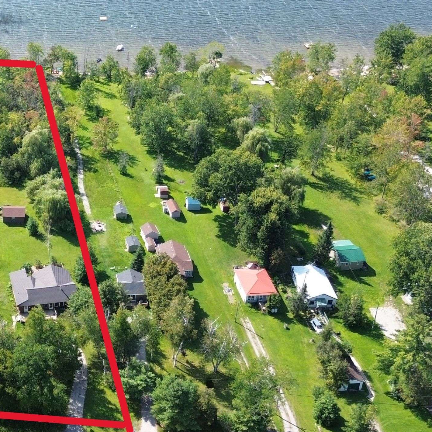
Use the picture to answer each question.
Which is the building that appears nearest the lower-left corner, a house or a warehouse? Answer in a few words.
house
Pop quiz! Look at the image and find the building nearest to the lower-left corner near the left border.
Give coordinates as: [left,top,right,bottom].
[9,261,79,331]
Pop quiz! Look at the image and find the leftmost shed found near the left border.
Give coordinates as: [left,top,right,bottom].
[0,205,26,223]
